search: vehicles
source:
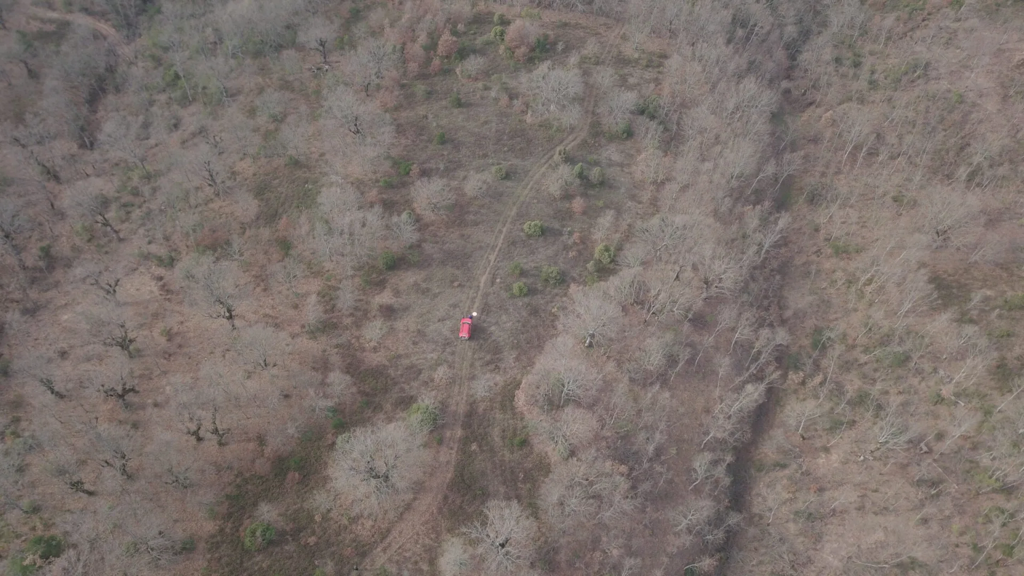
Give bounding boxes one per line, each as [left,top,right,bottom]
[461,319,473,340]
